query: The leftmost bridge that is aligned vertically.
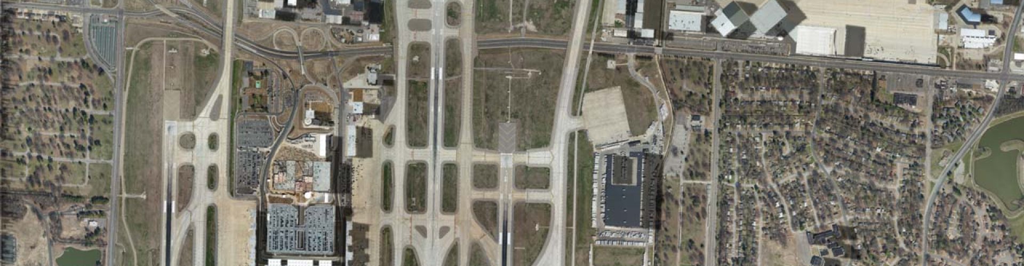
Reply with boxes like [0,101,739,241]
[222,17,240,53]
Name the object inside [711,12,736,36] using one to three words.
hangar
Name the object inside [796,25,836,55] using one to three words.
building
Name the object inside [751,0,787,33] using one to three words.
hangar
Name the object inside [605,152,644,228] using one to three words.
building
